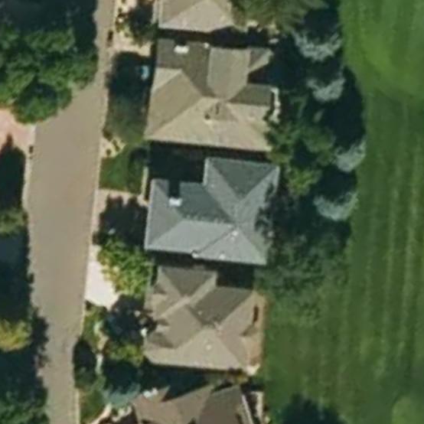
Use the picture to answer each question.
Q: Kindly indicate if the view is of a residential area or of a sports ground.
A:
residential area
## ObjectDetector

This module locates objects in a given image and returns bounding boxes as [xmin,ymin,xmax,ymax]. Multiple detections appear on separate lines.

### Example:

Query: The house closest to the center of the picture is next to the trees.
[145,156,282,270]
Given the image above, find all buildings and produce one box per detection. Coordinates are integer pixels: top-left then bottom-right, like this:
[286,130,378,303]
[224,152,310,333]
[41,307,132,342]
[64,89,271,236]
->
[142,38,276,152]
[134,388,248,424]
[145,156,282,270]
[142,268,263,374]
[149,0,240,30]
